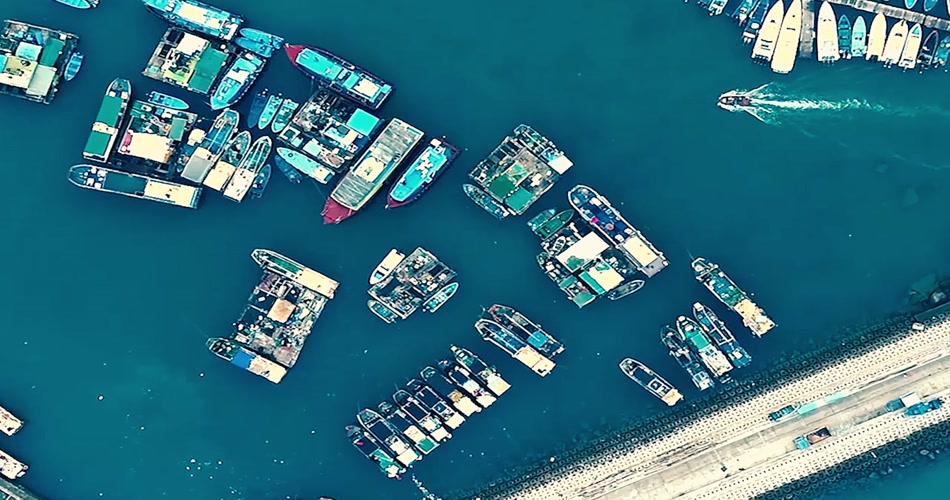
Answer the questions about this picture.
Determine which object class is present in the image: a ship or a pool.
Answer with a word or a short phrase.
ship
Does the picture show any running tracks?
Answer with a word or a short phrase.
No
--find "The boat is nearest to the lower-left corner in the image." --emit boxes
[0,450,29,482]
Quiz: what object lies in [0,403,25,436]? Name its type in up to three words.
boat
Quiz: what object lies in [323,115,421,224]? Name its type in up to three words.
ship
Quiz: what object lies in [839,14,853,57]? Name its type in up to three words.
boat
